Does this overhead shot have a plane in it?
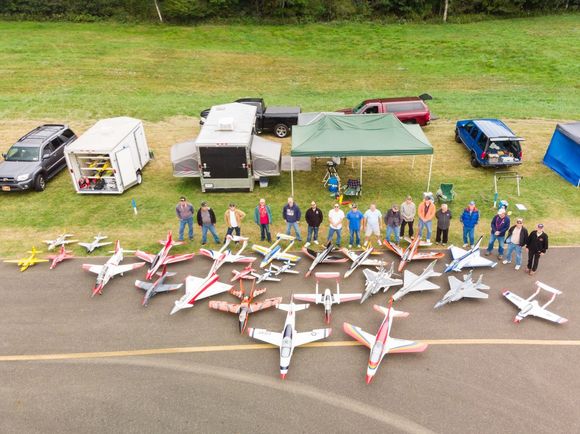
Yes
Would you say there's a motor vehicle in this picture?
Yes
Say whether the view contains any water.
No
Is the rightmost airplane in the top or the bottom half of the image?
bottom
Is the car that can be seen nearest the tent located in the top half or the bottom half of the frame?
top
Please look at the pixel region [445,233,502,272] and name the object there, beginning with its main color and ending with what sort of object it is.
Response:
white airplane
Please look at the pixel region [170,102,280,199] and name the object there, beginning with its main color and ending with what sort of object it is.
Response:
white camper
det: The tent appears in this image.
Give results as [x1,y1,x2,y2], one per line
[539,119,580,189]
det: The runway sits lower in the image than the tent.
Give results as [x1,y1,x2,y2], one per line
[0,247,580,434]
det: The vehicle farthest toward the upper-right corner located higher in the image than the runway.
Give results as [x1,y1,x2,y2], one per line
[455,116,535,167]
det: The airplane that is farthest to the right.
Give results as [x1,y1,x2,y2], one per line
[499,272,570,323]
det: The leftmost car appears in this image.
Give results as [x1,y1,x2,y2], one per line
[0,124,77,190]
